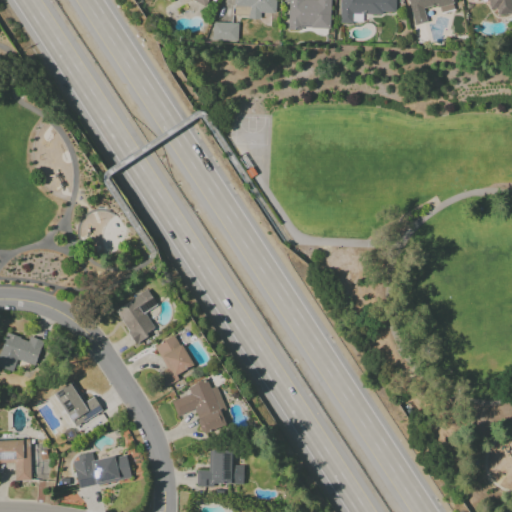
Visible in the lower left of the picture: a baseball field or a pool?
pool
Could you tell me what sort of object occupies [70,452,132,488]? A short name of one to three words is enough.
house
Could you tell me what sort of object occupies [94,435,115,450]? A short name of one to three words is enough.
swimming pool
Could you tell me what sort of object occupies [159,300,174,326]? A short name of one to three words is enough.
swimming pool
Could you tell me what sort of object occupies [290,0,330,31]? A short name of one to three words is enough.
house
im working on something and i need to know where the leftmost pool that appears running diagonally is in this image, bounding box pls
[39,404,61,431]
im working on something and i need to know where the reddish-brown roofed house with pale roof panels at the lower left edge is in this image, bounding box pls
[0,440,32,479]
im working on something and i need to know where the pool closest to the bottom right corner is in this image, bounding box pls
[250,488,278,500]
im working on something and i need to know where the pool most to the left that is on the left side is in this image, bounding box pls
[12,408,27,432]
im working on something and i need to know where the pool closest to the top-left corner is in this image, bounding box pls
[175,16,204,32]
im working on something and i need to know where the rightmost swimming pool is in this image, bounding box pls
[474,21,507,36]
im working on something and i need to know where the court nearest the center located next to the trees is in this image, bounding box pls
[230,114,272,180]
